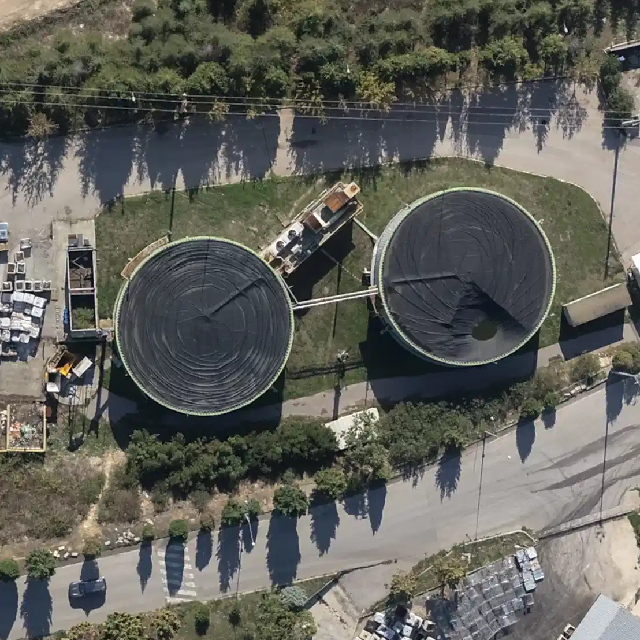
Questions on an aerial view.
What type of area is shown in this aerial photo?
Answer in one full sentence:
It's an industrial area.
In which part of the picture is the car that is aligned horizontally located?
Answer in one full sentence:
The car that is aligned horizontally sits in the bottom left section of the image.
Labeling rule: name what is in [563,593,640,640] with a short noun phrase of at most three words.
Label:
building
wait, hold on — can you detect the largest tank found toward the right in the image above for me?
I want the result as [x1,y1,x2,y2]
[371,189,555,366]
